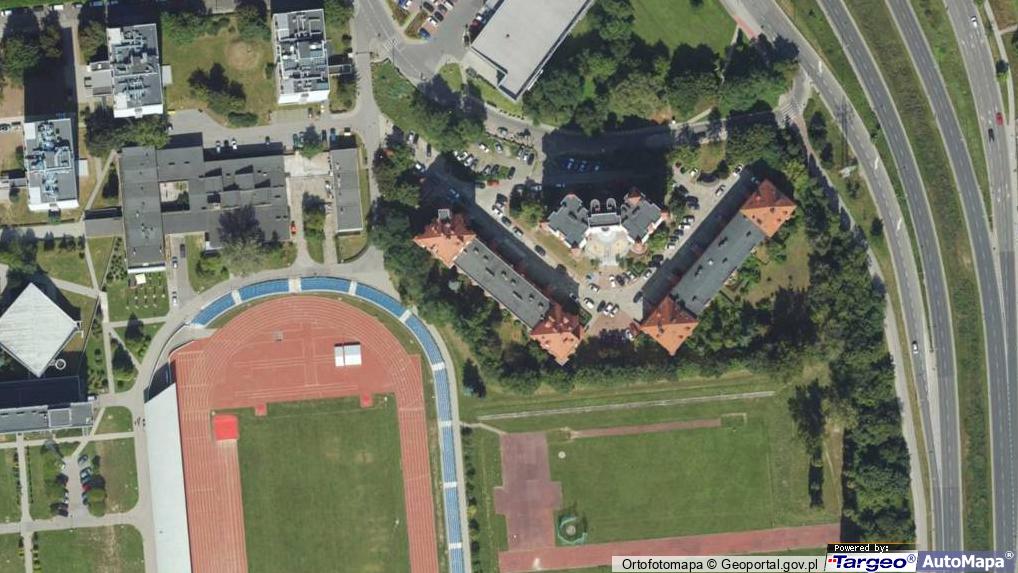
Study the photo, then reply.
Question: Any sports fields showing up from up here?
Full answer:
Yes, the image includes a sports field.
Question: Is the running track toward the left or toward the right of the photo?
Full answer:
You can find the running track on the left side of the picture.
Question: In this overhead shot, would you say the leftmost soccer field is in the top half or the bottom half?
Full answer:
The leftmost soccer field is in the bottom half of the image.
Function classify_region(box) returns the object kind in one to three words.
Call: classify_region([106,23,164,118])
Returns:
building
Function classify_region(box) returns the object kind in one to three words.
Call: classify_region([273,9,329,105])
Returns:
building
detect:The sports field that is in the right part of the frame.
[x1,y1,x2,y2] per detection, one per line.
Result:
[548,417,774,546]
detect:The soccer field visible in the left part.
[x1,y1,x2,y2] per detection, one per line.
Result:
[211,393,409,573]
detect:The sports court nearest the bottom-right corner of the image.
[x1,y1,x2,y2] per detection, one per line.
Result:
[494,433,563,551]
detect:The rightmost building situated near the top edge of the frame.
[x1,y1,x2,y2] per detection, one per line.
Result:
[466,0,595,103]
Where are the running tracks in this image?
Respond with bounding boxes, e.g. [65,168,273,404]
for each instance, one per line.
[169,295,442,573]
